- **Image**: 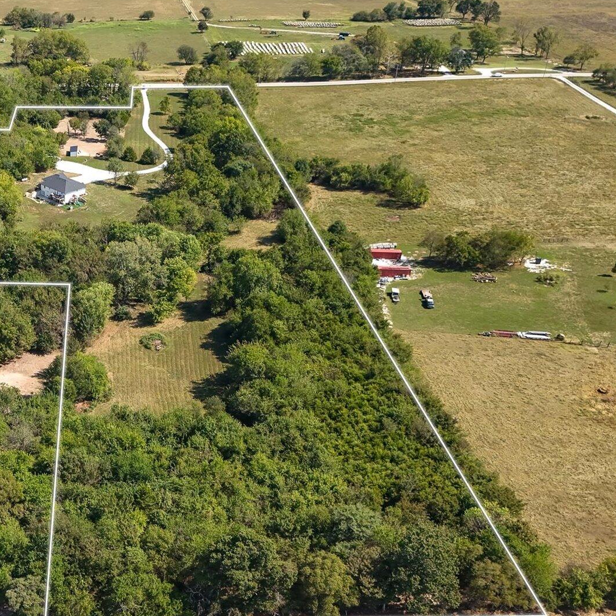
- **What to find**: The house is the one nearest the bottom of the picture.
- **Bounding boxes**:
[37,176,90,207]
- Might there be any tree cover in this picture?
Yes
